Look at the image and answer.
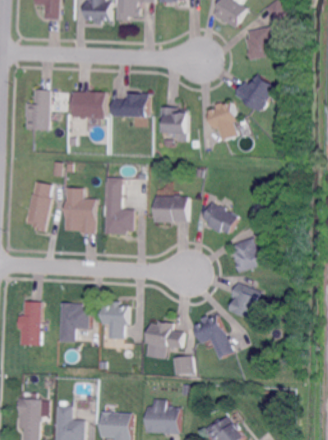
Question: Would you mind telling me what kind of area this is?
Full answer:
This image shows a residential area.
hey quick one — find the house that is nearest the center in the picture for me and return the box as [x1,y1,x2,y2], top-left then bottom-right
[148,196,188,224]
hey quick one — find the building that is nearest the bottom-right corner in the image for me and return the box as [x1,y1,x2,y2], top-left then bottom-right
[200,414,244,440]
